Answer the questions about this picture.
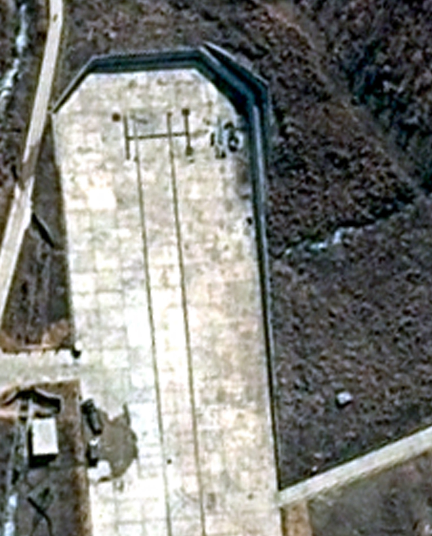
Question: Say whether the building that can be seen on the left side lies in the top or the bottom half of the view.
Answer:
bottom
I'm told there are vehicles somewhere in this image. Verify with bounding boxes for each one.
[89,439,100,463]
[81,398,103,432]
